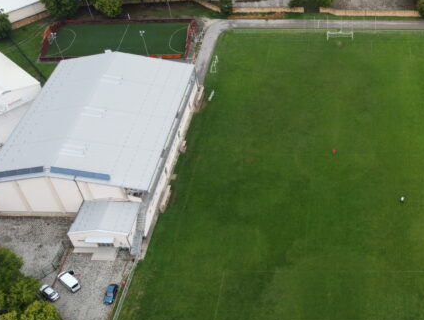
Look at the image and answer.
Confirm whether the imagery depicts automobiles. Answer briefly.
Yes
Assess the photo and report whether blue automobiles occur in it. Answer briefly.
Yes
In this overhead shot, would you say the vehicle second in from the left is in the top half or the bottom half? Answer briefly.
bottom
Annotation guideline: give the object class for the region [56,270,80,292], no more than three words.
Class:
vehicle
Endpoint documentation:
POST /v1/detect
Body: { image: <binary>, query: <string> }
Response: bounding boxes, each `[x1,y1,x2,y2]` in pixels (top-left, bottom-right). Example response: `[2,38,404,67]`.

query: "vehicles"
[101,283,119,305]
[38,284,59,303]
[56,270,80,292]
